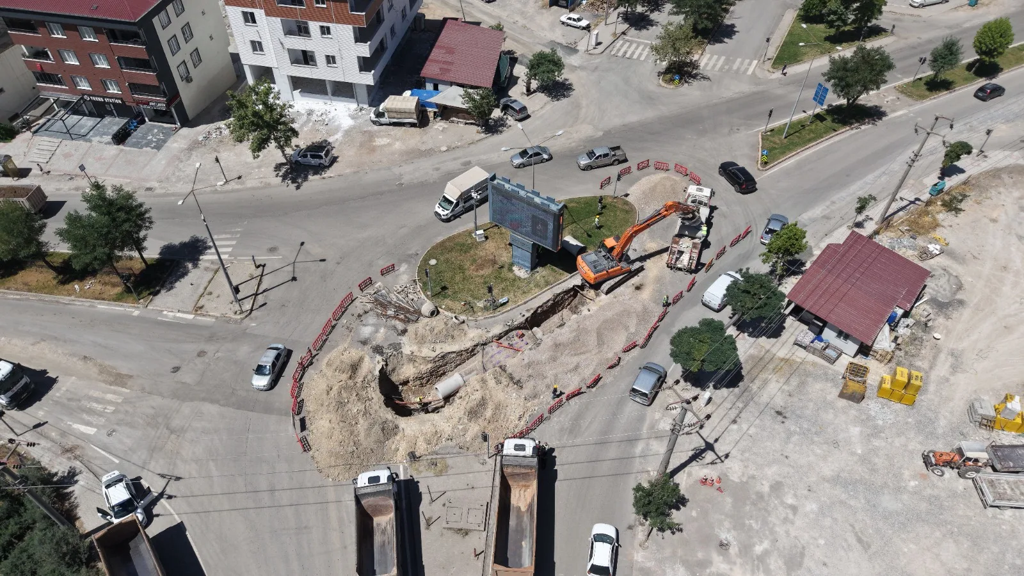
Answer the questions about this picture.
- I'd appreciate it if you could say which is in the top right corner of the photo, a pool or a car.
car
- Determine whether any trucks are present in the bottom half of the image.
Yes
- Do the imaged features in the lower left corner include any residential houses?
No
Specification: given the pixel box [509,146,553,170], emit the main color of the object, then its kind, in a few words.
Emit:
gray car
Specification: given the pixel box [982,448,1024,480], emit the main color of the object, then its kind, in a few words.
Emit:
gray trailer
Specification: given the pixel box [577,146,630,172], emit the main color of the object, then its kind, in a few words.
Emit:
gray truck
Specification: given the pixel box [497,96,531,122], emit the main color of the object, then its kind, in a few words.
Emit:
gray car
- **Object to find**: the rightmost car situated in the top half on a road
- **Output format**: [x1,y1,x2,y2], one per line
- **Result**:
[975,82,1008,103]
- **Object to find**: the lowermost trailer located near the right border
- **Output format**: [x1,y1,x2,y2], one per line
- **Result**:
[975,478,1024,513]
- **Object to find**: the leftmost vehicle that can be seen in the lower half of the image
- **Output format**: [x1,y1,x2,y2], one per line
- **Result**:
[0,350,38,408]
